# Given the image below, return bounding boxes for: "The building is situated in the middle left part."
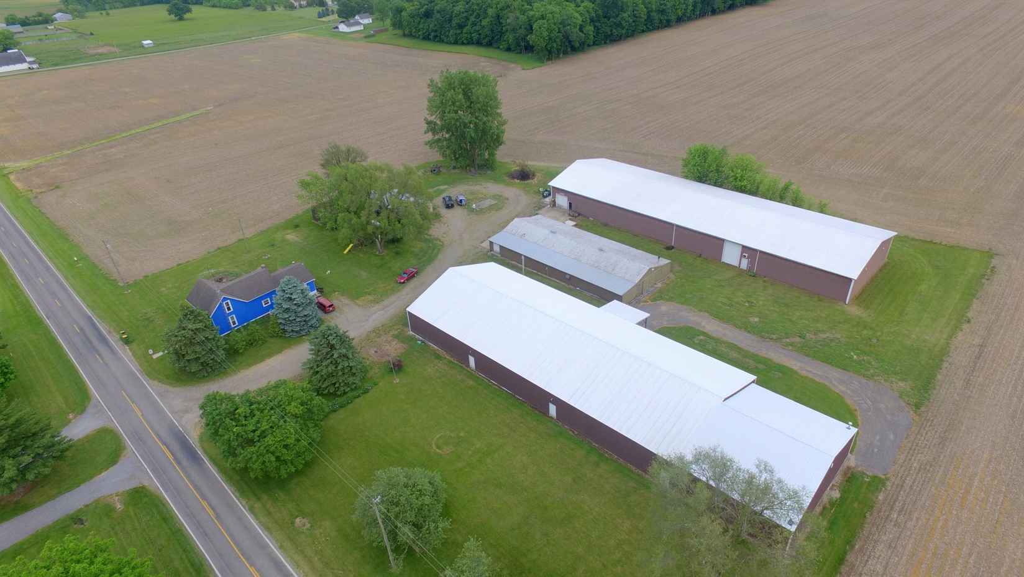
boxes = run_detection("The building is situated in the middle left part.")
[187,262,332,334]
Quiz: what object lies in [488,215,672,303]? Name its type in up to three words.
shed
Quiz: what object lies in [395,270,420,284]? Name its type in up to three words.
car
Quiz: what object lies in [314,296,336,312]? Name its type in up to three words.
car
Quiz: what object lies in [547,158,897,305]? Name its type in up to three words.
barn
